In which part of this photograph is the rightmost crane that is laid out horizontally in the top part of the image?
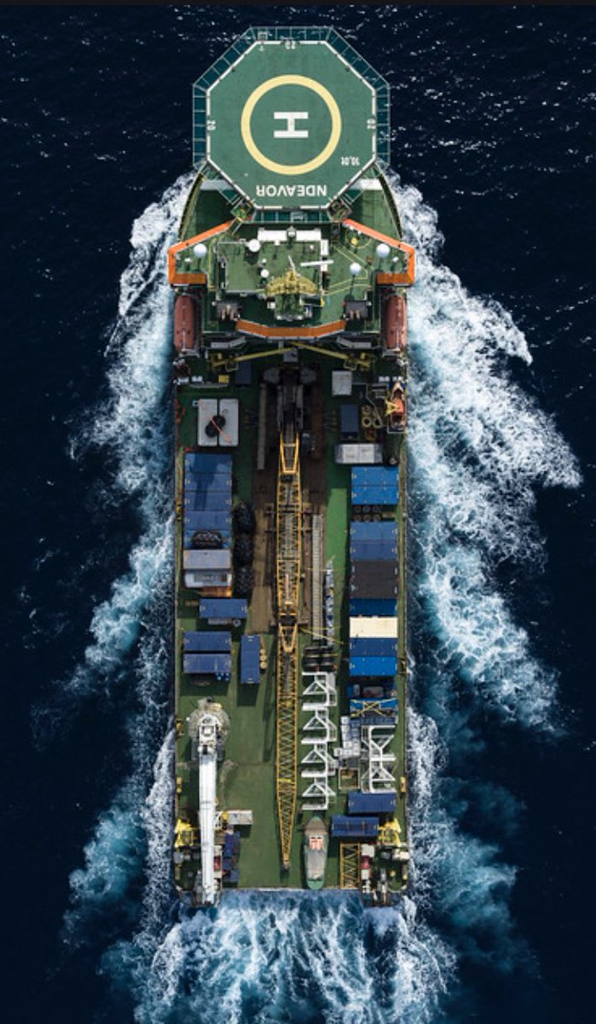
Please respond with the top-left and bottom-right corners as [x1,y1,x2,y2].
[292,342,376,375]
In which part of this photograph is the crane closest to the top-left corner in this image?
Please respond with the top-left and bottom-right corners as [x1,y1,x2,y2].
[210,345,296,375]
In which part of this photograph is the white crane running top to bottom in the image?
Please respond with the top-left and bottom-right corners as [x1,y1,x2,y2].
[185,696,229,907]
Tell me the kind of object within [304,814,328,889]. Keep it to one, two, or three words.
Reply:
boat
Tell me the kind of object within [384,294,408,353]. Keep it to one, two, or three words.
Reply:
boat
